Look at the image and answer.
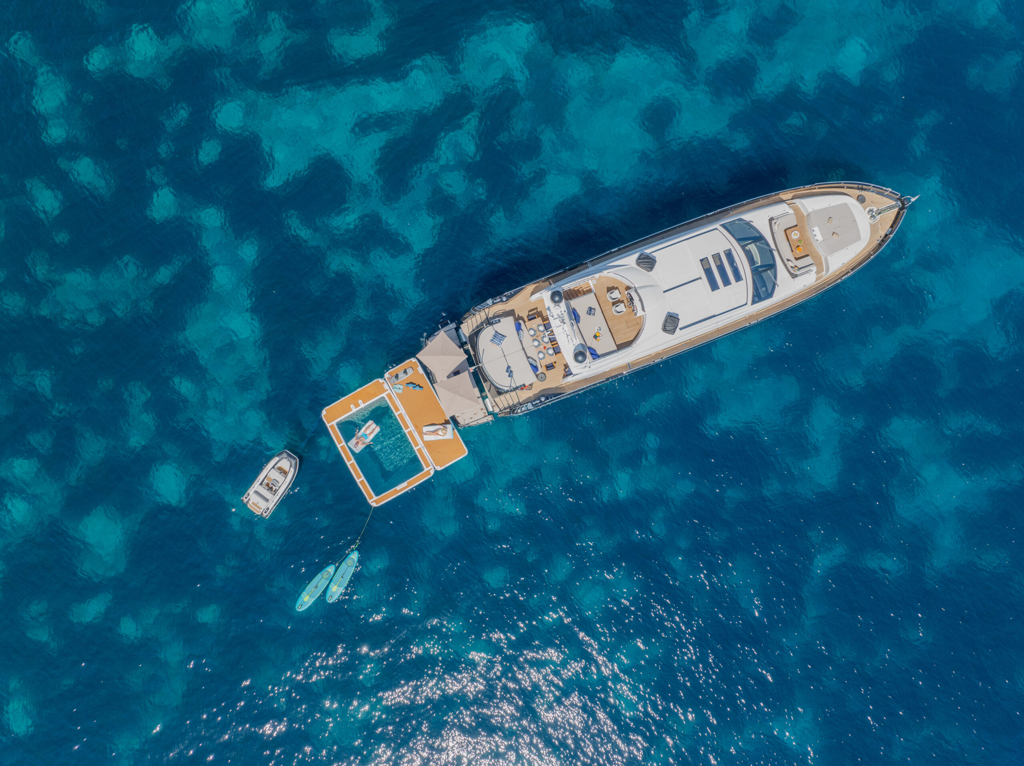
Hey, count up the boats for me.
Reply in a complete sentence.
Looking from above, you can make out 2 boats.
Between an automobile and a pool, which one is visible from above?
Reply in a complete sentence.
Visible in the photo is a pool.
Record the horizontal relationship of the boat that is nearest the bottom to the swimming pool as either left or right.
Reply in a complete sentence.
Relative to the swimming pool, the boat that is nearest the bottom is on the left.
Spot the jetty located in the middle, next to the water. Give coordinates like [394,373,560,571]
[385,358,468,471]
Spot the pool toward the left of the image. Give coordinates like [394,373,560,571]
[321,378,435,506]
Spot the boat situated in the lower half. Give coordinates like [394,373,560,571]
[242,449,299,519]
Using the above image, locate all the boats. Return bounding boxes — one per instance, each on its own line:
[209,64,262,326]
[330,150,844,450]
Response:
[425,181,919,428]
[242,449,299,519]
